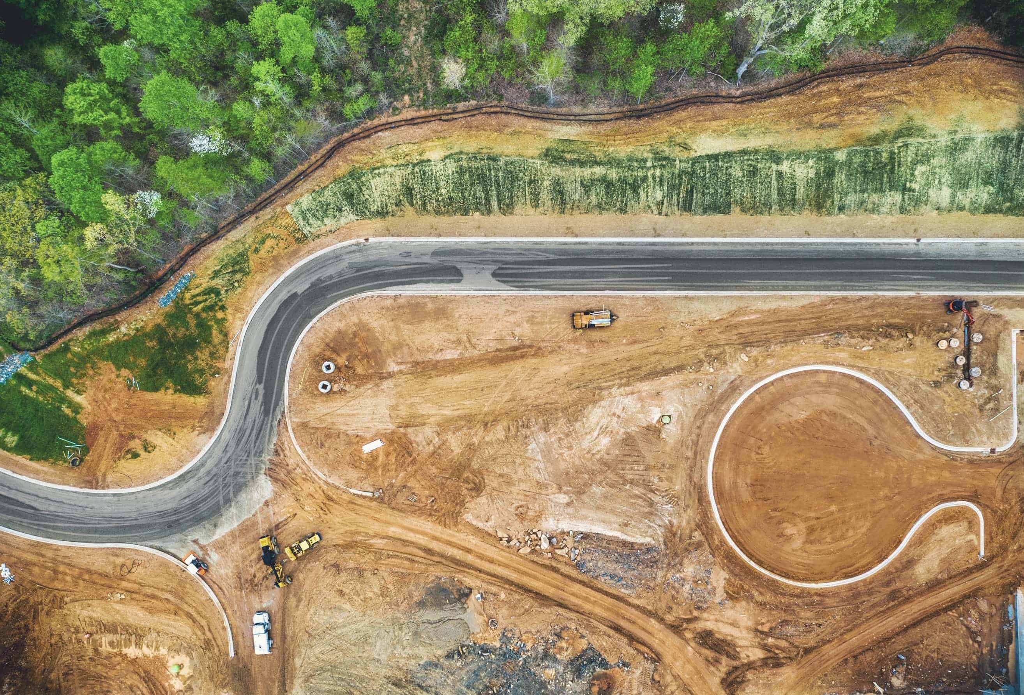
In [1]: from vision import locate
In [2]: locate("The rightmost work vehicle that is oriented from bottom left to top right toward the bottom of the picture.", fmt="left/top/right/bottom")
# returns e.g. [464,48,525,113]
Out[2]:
[286,529,326,560]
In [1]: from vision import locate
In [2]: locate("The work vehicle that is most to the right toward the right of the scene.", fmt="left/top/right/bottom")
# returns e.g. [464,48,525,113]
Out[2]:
[941,300,980,328]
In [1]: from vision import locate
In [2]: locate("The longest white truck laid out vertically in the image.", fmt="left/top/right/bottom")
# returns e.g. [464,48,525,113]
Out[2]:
[250,610,272,658]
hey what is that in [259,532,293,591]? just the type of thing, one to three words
work vehicle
